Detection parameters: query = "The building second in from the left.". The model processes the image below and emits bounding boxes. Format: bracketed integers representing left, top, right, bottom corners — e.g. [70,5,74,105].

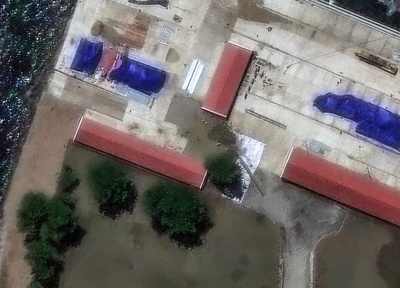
[202,42,253,118]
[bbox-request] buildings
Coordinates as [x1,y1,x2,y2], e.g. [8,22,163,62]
[281,147,400,226]
[202,42,253,118]
[75,117,206,188]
